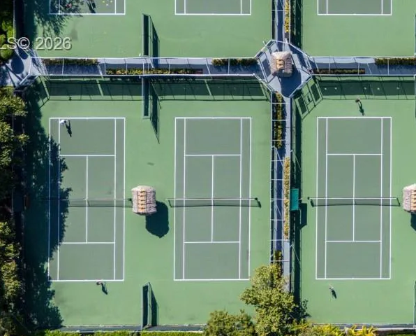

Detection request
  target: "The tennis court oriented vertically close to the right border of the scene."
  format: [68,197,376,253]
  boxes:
[295,76,416,325]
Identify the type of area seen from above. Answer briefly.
sports ground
